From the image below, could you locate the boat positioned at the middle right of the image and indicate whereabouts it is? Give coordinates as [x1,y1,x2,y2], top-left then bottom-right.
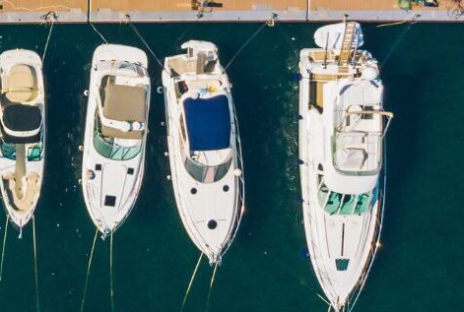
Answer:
[294,41,384,312]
